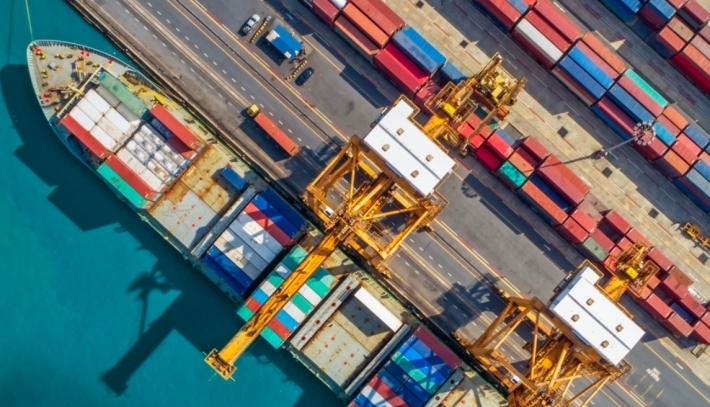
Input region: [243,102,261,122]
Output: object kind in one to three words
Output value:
vehicle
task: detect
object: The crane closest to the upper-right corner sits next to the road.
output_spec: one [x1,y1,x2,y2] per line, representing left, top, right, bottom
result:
[447,50,525,157]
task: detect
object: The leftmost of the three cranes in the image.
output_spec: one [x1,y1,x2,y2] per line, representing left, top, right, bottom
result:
[202,78,478,379]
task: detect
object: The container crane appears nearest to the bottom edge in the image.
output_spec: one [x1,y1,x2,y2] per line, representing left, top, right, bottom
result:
[454,242,661,407]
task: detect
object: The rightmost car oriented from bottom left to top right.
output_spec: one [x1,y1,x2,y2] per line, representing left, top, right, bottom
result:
[294,67,313,85]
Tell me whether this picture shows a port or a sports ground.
port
